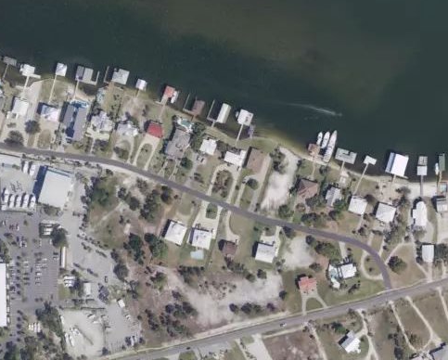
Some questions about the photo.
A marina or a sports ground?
marina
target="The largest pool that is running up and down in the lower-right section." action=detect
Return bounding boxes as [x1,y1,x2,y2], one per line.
[327,263,340,286]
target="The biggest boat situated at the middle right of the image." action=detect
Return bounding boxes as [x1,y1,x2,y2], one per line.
[323,131,337,162]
